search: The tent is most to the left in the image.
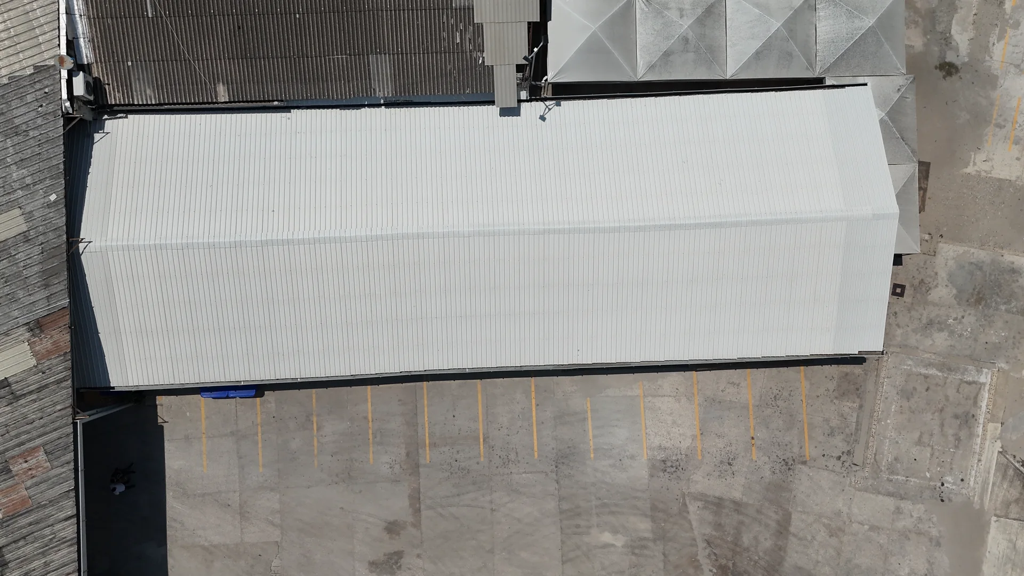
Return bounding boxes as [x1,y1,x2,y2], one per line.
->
[545,0,636,97]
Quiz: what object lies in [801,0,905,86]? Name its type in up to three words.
tent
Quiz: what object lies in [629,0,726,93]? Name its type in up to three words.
tent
